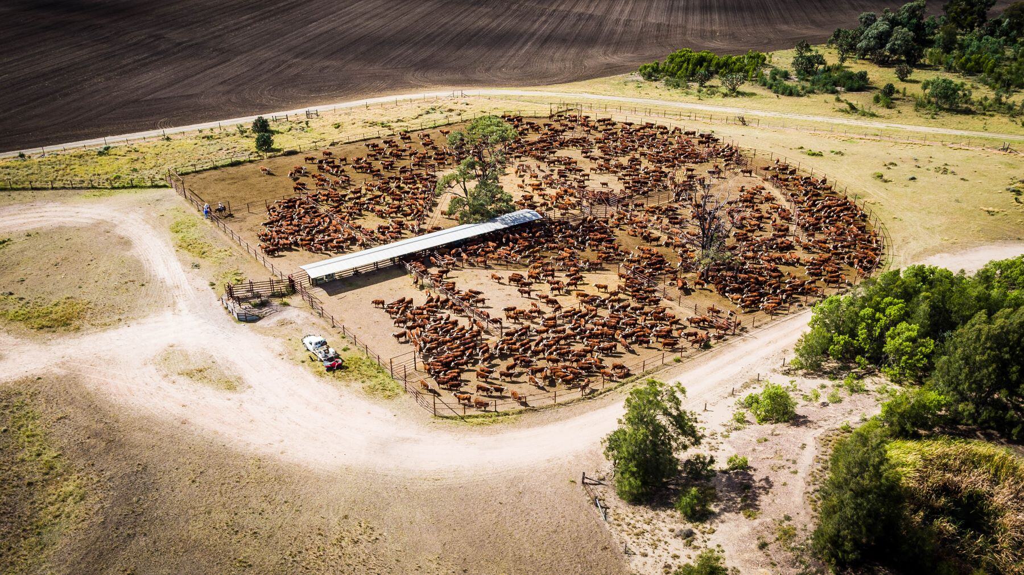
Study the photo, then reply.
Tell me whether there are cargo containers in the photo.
No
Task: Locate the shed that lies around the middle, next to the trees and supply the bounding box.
[302,208,542,293]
